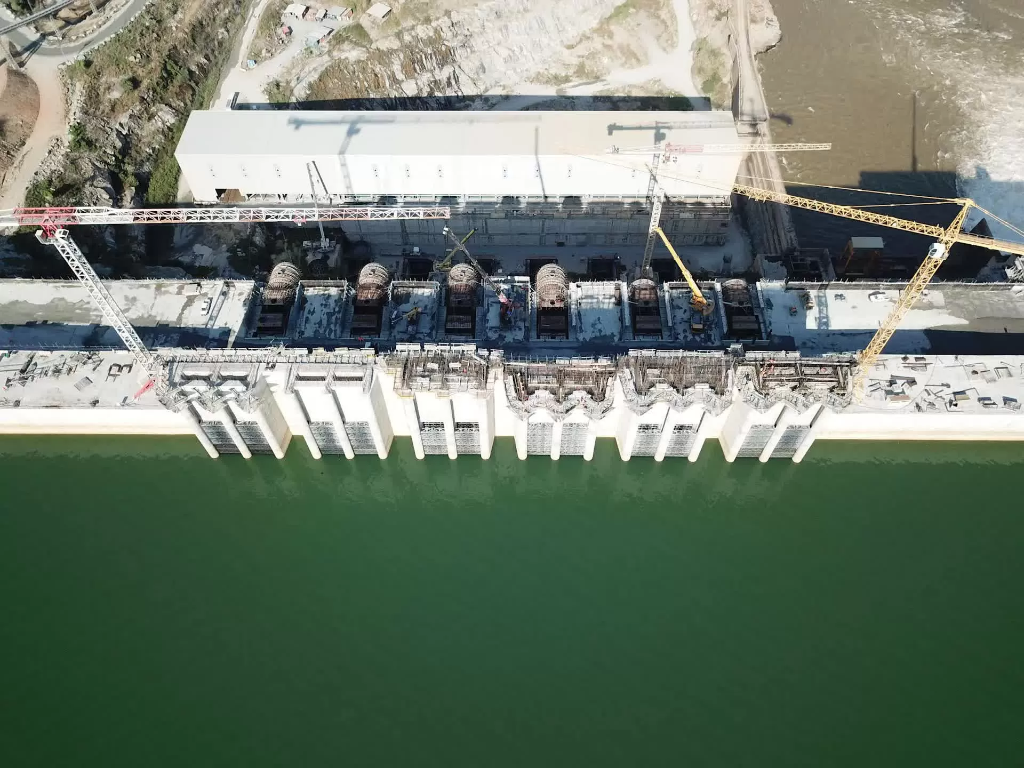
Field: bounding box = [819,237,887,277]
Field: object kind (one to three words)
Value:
container crane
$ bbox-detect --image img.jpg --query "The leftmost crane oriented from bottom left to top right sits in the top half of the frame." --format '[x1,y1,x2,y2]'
[435,229,481,270]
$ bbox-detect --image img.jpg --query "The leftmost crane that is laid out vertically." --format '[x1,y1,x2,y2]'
[307,160,333,250]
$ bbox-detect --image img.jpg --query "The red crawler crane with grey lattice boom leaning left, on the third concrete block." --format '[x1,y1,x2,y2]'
[442,226,529,324]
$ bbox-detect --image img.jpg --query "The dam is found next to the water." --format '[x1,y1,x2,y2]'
[0,272,1024,441]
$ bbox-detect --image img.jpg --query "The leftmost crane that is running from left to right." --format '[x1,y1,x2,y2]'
[0,207,452,383]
